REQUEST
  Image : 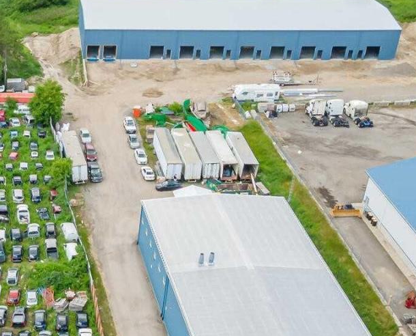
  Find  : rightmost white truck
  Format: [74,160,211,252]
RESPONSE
[349,97,379,127]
